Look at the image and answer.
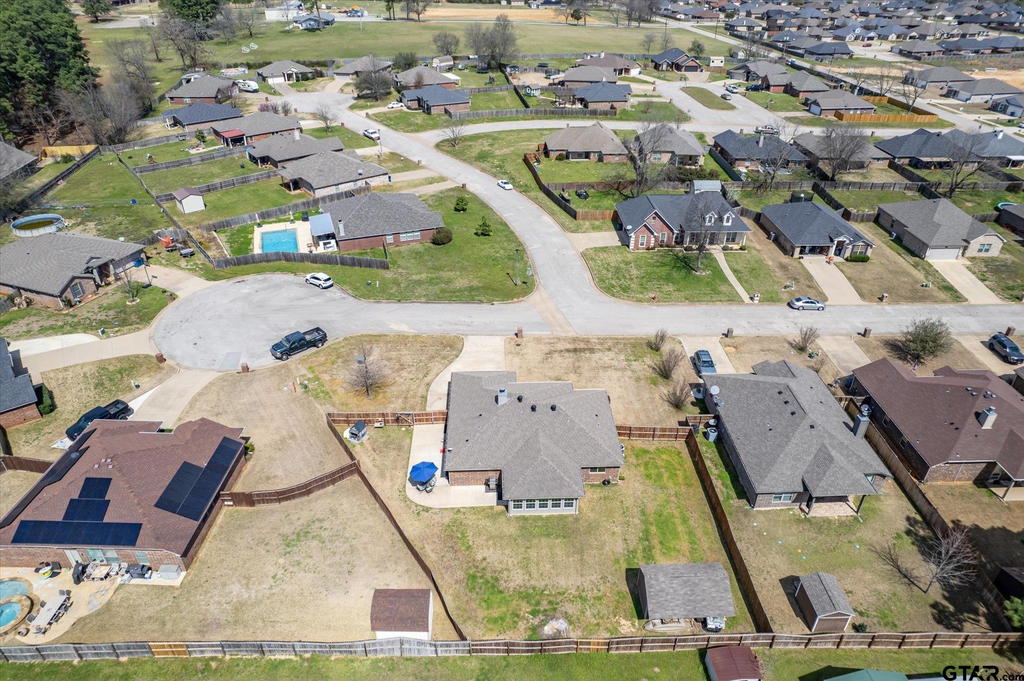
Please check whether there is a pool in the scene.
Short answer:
Yes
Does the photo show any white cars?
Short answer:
Yes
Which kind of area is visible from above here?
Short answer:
residential area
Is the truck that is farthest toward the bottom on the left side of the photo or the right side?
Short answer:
left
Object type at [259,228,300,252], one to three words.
swimming pool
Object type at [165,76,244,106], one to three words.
house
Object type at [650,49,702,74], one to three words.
house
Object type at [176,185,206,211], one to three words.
shed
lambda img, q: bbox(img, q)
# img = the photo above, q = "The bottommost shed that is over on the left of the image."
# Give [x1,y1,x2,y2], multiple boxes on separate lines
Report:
[370,587,435,658]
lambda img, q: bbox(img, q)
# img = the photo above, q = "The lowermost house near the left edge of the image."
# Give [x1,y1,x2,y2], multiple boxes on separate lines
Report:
[0,415,249,577]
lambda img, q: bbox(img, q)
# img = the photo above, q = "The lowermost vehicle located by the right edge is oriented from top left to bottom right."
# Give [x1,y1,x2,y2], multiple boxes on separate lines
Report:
[987,331,1024,360]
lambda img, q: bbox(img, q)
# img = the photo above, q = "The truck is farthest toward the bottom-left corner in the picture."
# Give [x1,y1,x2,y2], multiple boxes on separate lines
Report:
[65,398,129,438]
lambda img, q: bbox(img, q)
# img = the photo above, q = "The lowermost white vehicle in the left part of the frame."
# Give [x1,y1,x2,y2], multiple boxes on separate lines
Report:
[303,272,333,288]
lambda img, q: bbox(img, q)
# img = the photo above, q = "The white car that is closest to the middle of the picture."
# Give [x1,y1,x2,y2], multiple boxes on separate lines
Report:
[495,177,514,189]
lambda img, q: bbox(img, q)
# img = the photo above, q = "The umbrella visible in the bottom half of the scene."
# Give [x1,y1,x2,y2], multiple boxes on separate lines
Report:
[409,462,438,487]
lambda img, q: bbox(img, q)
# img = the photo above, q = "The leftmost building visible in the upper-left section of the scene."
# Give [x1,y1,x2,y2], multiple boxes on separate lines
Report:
[0,153,40,191]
